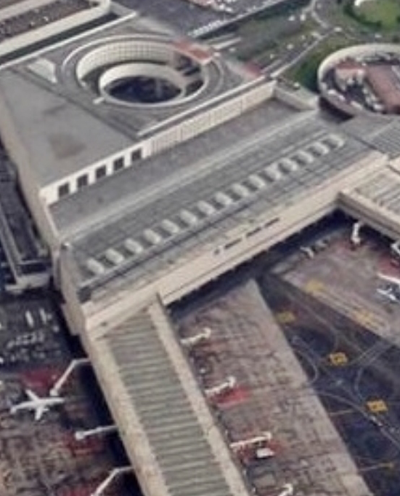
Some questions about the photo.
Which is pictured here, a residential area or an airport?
airport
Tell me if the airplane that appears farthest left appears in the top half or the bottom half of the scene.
bottom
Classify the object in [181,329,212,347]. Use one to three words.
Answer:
jet bridge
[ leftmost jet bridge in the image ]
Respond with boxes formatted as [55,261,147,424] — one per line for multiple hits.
[51,356,91,396]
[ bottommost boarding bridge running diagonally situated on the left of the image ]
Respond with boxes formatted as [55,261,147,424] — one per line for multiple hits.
[91,464,134,496]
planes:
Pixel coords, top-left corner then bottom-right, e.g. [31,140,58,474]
[377,275,400,301]
[8,395,65,422]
